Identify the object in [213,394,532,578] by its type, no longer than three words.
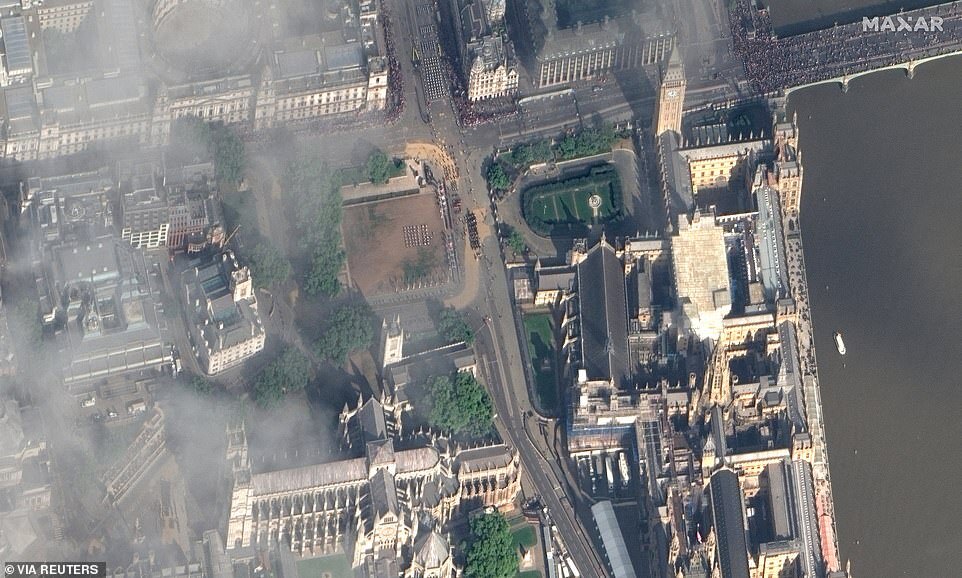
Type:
church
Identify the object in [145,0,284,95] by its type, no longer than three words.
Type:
building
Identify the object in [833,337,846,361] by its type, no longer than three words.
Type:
boat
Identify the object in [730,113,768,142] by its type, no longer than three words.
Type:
building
